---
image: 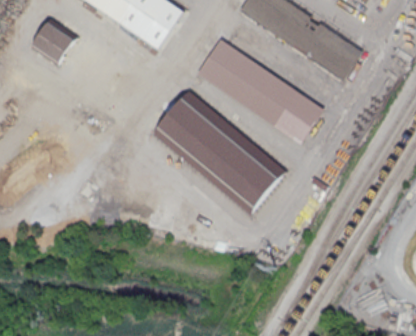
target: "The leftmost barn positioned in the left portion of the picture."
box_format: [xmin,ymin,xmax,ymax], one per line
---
[32,17,78,66]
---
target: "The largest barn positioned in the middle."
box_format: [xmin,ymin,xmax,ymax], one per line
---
[154,89,286,215]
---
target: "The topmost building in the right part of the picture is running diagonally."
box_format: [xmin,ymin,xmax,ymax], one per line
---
[242,0,362,81]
